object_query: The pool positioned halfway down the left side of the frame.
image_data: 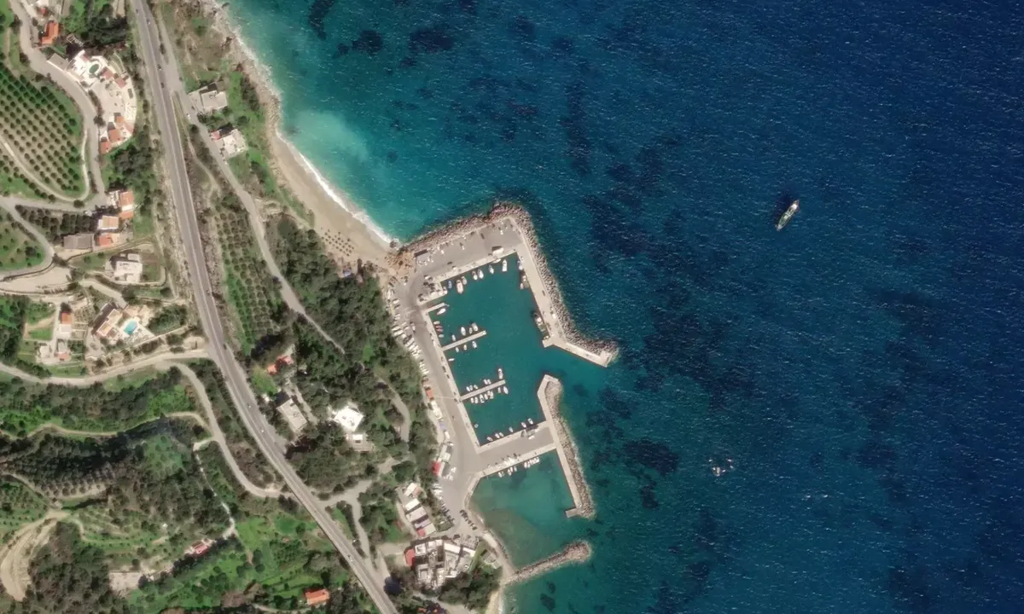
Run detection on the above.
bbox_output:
[121,319,137,335]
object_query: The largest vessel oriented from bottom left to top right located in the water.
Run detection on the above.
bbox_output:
[776,200,798,230]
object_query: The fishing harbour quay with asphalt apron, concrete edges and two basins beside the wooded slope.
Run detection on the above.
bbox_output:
[383,200,556,535]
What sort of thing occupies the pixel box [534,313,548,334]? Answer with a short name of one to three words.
boat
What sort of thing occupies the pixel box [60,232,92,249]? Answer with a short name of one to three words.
shed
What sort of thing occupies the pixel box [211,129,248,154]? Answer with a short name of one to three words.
building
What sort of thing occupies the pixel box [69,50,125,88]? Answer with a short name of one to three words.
house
